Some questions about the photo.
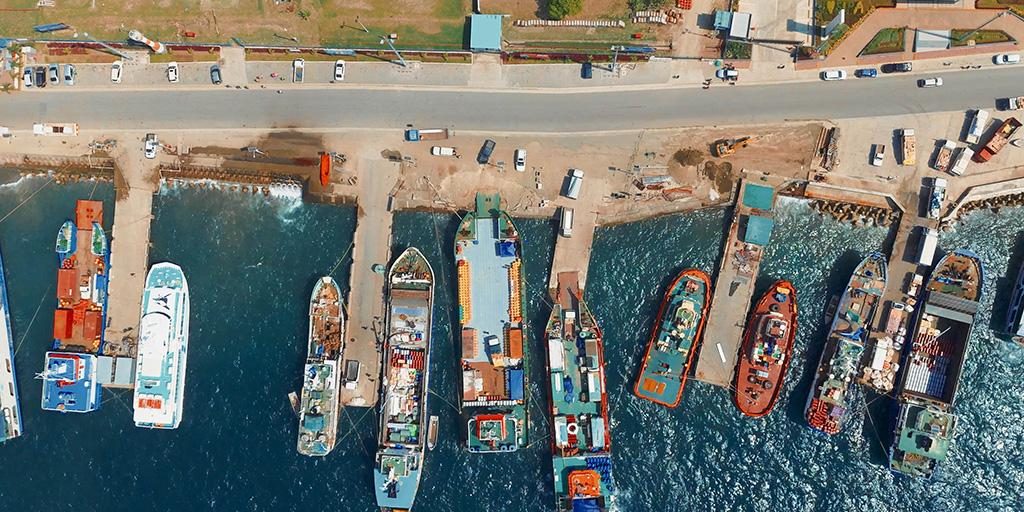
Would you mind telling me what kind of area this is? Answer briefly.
port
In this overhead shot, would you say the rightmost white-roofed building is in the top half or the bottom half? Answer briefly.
top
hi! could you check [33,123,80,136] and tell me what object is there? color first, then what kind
white vehicle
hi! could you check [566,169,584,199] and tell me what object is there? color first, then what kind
white vehicle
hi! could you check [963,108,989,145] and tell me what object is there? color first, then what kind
white truck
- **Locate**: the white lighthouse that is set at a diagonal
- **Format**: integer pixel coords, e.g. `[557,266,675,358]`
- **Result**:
[130,28,166,56]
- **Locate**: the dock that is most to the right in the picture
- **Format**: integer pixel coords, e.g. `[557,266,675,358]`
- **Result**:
[854,190,944,397]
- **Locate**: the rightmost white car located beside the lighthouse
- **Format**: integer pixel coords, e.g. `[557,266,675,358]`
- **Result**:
[169,62,181,85]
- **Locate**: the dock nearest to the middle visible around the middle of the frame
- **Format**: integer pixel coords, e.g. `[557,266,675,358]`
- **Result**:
[548,190,602,290]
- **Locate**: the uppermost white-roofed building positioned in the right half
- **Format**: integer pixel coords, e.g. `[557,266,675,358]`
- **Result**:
[726,11,751,42]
